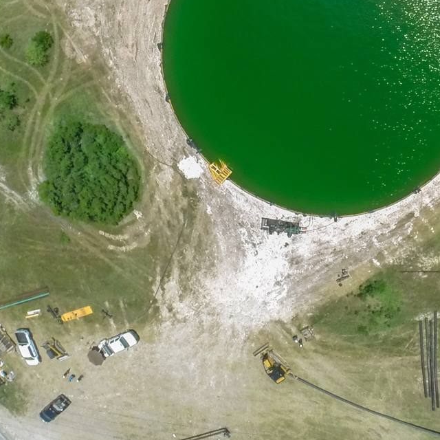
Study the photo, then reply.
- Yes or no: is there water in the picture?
Yes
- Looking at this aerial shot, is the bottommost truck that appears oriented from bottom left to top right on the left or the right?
left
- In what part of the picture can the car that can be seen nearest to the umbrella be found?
bottom left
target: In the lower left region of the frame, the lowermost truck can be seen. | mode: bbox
[39,390,74,424]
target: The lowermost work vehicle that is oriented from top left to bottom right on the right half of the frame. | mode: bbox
[256,347,293,377]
